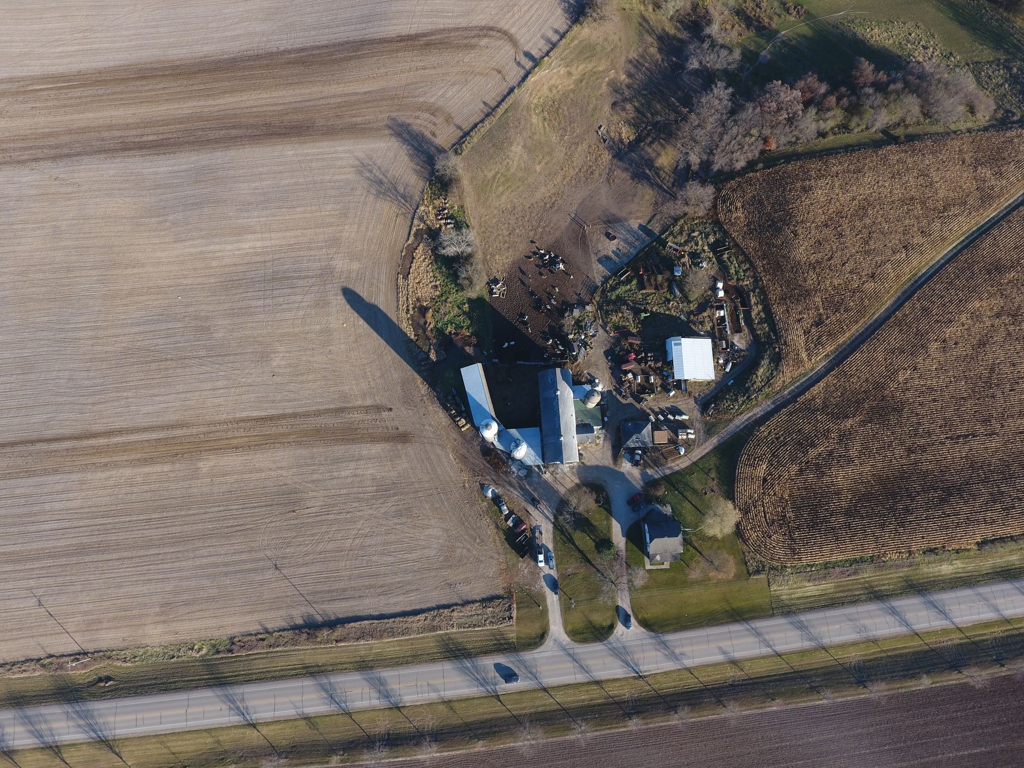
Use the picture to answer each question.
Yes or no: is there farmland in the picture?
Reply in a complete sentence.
Yes, there's farmland in this view.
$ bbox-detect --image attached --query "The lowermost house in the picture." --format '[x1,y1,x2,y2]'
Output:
[646,510,684,566]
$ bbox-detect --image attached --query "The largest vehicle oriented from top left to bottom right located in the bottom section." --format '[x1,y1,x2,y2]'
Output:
[496,496,511,516]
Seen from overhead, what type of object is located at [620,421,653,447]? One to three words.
building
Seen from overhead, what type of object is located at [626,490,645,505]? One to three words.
vehicle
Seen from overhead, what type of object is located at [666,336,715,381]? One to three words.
shed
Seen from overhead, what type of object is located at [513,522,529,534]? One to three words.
vehicle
